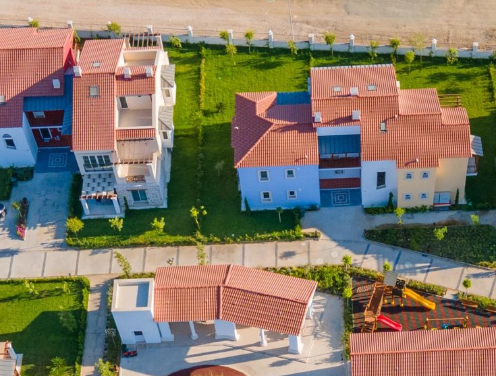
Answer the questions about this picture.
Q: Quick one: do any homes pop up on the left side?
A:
Yes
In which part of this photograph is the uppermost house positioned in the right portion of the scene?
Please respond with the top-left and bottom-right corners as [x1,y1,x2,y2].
[233,65,489,210]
